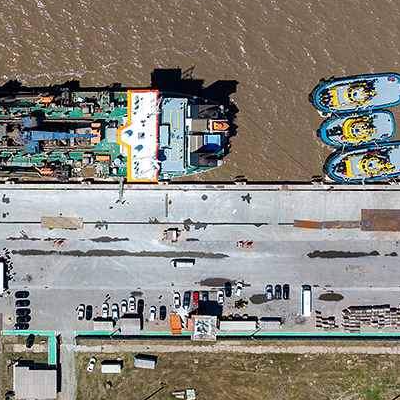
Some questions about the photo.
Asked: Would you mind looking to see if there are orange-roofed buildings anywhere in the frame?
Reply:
No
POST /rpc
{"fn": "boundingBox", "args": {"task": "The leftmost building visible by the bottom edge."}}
[12,363,57,400]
